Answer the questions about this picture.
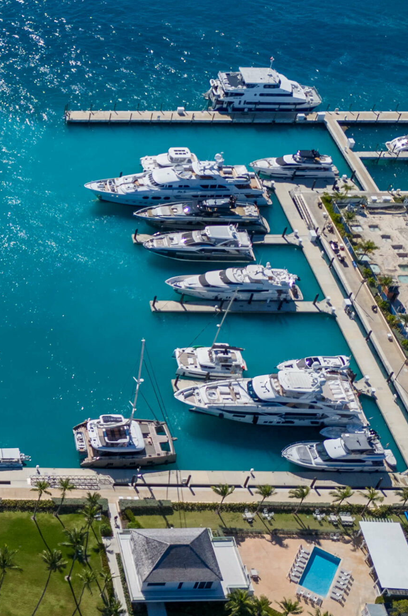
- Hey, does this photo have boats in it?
Yes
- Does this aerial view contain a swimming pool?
Yes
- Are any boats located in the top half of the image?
Yes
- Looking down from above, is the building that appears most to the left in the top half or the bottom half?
bottom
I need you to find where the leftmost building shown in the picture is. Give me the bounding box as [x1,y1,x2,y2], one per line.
[108,515,254,614]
